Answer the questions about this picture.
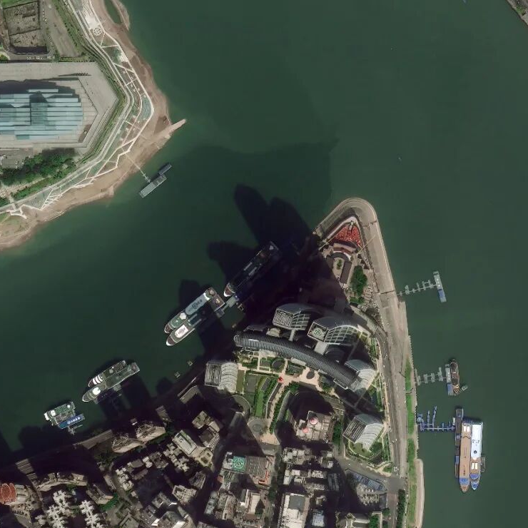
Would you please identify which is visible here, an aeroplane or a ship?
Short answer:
ship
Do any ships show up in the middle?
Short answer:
Yes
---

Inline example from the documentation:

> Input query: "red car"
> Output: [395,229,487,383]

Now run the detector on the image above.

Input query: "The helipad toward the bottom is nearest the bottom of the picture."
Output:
[233,457,245,469]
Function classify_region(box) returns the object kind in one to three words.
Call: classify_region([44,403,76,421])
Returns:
ship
